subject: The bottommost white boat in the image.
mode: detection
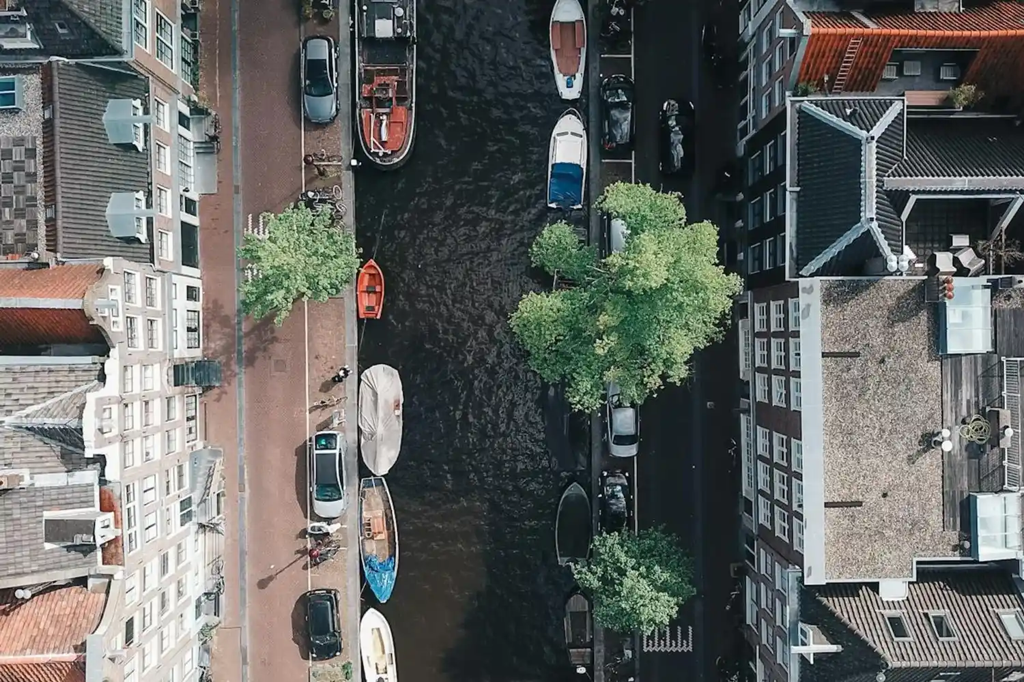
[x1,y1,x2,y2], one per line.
[361,607,397,682]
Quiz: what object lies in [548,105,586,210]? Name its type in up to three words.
boat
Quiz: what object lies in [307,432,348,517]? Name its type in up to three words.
car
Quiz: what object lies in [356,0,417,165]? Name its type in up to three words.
ship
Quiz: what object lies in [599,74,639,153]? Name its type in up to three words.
car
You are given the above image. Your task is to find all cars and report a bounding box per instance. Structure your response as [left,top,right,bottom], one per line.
[657,98,699,179]
[307,432,348,517]
[305,587,344,662]
[602,377,643,458]
[599,74,639,153]
[297,35,339,125]
[598,467,635,539]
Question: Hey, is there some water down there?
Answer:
Yes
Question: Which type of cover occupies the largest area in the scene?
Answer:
buildings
